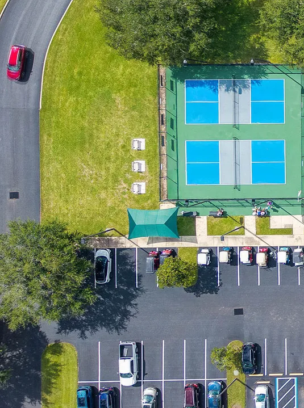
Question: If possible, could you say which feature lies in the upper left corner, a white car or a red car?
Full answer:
You can see a red car in the upper left corner.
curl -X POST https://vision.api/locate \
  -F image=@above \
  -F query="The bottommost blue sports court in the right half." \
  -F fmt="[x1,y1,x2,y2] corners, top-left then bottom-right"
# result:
[185,140,286,185]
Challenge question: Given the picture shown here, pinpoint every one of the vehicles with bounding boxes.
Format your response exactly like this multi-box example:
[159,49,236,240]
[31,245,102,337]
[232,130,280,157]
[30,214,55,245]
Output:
[118,340,140,386]
[241,247,254,266]
[206,380,225,408]
[257,248,271,267]
[99,386,118,408]
[148,251,162,269]
[6,44,29,81]
[277,247,291,266]
[220,247,233,266]
[160,247,175,257]
[293,248,304,267]
[141,386,159,408]
[185,382,202,408]
[254,384,271,408]
[77,384,95,408]
[93,248,114,285]
[199,247,213,266]
[242,341,259,375]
